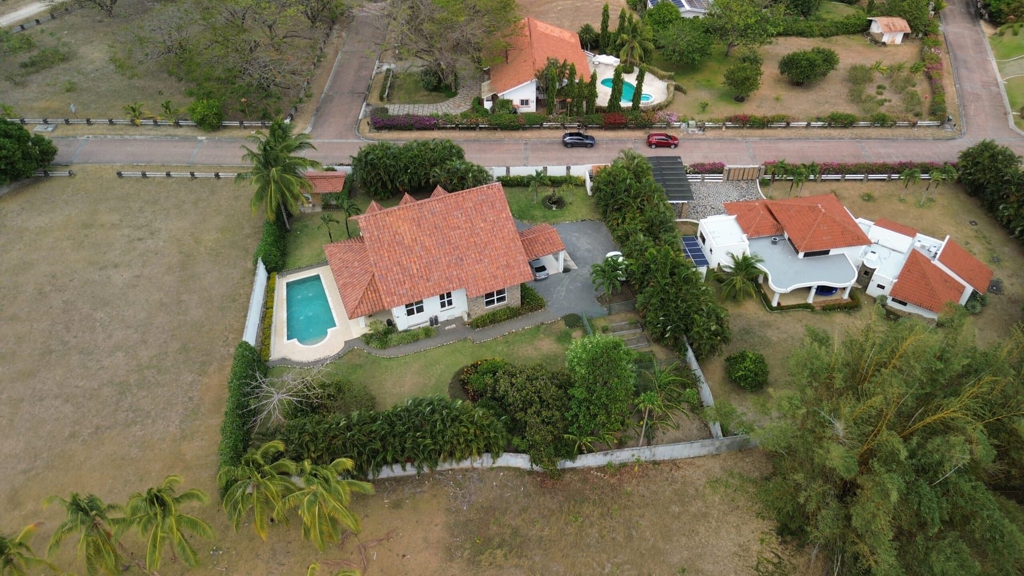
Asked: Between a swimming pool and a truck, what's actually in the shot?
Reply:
swimming pool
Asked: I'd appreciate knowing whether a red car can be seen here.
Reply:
Yes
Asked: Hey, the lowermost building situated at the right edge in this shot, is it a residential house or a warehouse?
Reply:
residential house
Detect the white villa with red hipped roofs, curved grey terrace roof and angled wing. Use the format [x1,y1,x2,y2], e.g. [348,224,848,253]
[696,192,993,329]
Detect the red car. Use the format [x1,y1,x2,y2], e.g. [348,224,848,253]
[646,133,680,149]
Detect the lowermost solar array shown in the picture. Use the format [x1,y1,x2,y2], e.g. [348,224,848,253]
[674,236,709,280]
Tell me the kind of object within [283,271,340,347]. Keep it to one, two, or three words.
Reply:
swimming pool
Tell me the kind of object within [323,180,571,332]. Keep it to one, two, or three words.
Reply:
house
